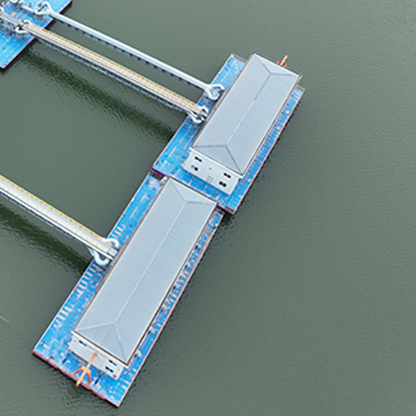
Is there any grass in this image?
No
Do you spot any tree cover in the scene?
No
